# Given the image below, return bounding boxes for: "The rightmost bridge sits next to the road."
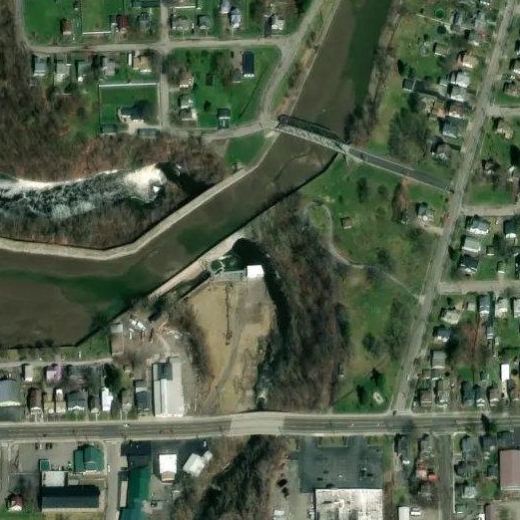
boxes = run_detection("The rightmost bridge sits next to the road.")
[275,119,346,154]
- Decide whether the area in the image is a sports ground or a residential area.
residential area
